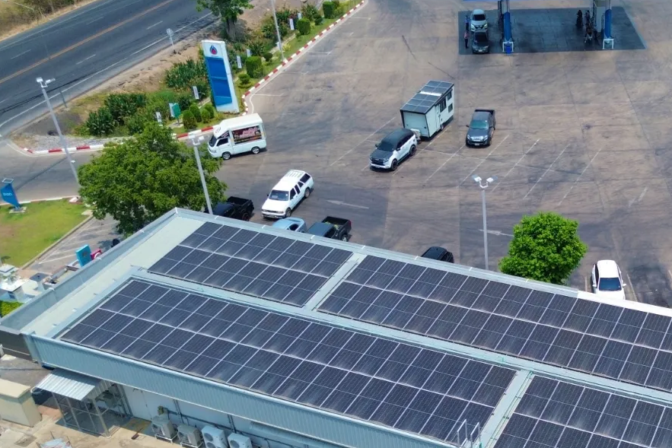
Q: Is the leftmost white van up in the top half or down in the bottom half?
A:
top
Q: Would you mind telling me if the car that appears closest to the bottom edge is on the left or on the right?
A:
right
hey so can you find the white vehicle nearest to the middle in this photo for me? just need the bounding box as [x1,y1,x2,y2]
[260,171,312,217]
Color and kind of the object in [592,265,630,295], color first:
white car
